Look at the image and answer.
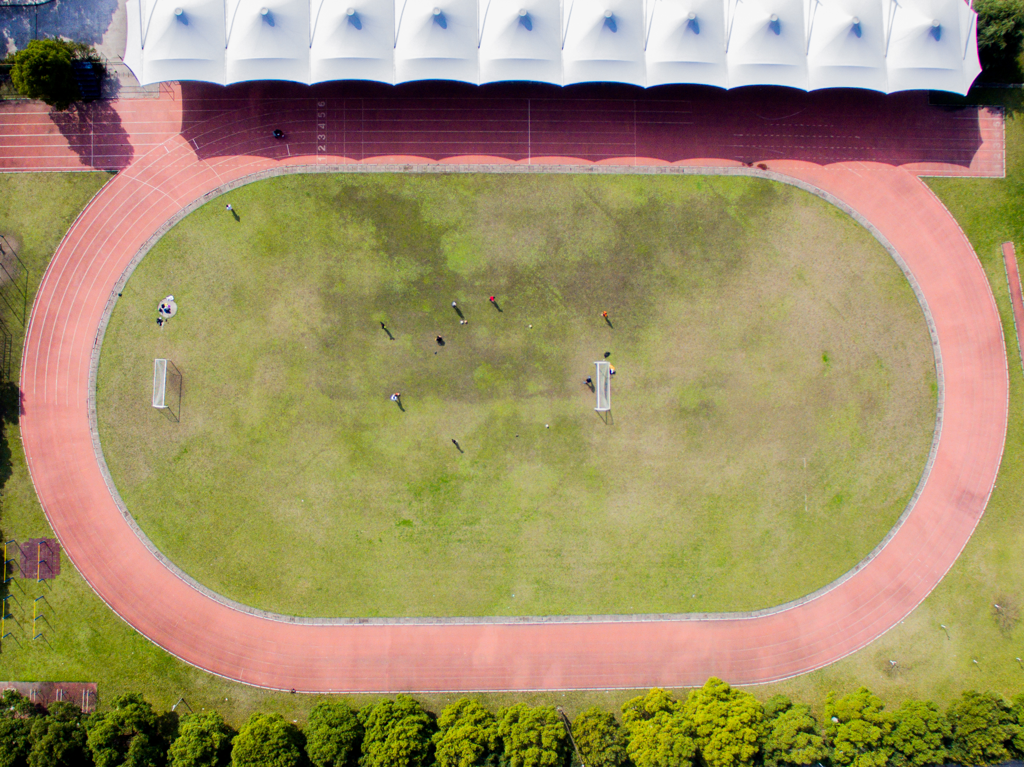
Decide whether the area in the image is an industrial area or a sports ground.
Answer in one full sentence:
It's a sports ground.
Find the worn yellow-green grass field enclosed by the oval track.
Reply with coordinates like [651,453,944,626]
[96,172,937,617]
